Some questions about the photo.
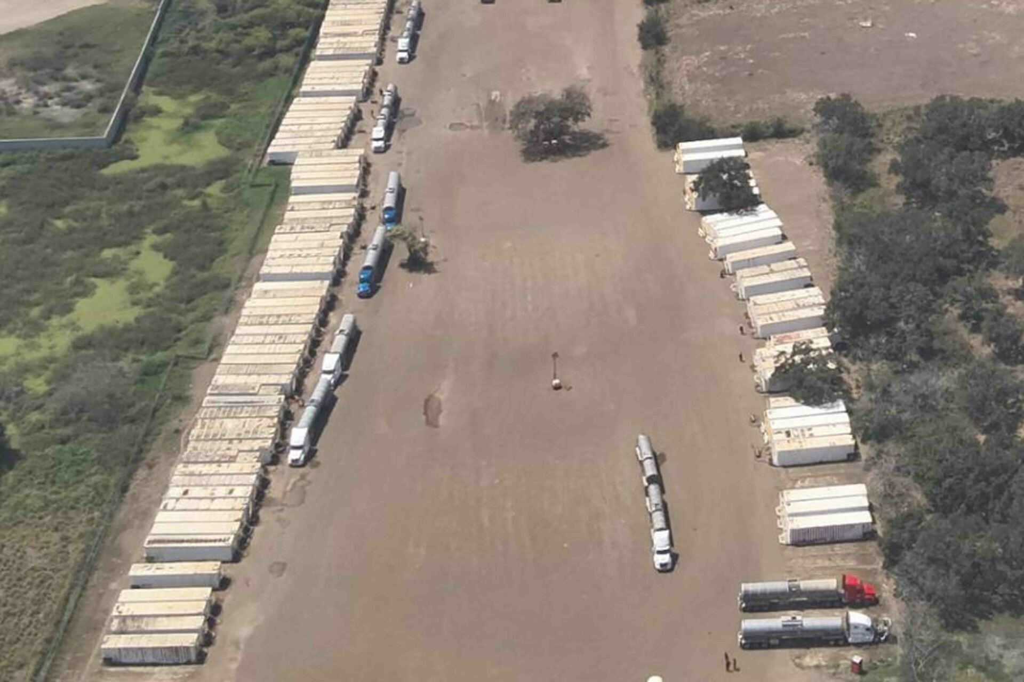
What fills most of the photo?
paved ground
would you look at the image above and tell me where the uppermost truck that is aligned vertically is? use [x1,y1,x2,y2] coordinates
[397,0,421,63]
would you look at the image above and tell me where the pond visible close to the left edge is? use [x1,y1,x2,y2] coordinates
[0,86,242,401]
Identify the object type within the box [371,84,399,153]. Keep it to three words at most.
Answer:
truck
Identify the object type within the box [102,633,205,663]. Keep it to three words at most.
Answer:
trailer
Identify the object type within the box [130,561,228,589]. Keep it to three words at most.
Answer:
trailer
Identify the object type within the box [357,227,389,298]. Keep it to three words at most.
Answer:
truck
